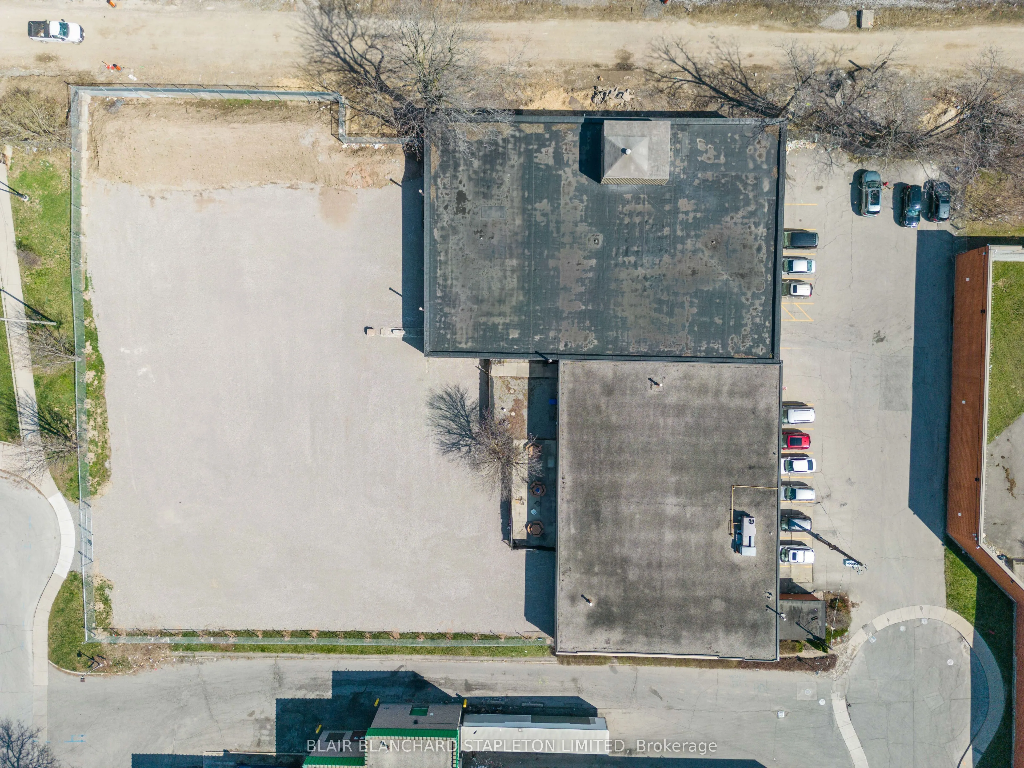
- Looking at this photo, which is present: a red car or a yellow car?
red car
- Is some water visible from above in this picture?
No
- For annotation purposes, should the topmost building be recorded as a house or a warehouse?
warehouse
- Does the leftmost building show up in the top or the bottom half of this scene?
bottom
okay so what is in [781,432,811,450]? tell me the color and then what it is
red car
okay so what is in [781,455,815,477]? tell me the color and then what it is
white car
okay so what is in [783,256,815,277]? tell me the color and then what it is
white car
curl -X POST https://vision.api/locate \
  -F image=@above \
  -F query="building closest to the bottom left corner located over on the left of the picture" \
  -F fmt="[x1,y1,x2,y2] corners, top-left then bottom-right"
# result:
[303,704,463,768]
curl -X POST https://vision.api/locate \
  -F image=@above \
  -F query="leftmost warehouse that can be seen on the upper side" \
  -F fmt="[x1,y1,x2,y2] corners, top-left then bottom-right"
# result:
[423,114,788,364]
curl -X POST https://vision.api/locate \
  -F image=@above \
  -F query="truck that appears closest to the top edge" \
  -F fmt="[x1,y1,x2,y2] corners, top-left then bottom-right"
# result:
[22,15,81,43]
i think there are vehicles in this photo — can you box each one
[900,184,925,230]
[782,405,817,427]
[22,15,81,43]
[782,279,815,301]
[926,180,953,225]
[783,256,815,277]
[781,455,815,477]
[781,432,811,450]
[781,513,814,535]
[780,543,817,566]
[784,228,821,252]
[860,172,885,219]
[781,483,818,504]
